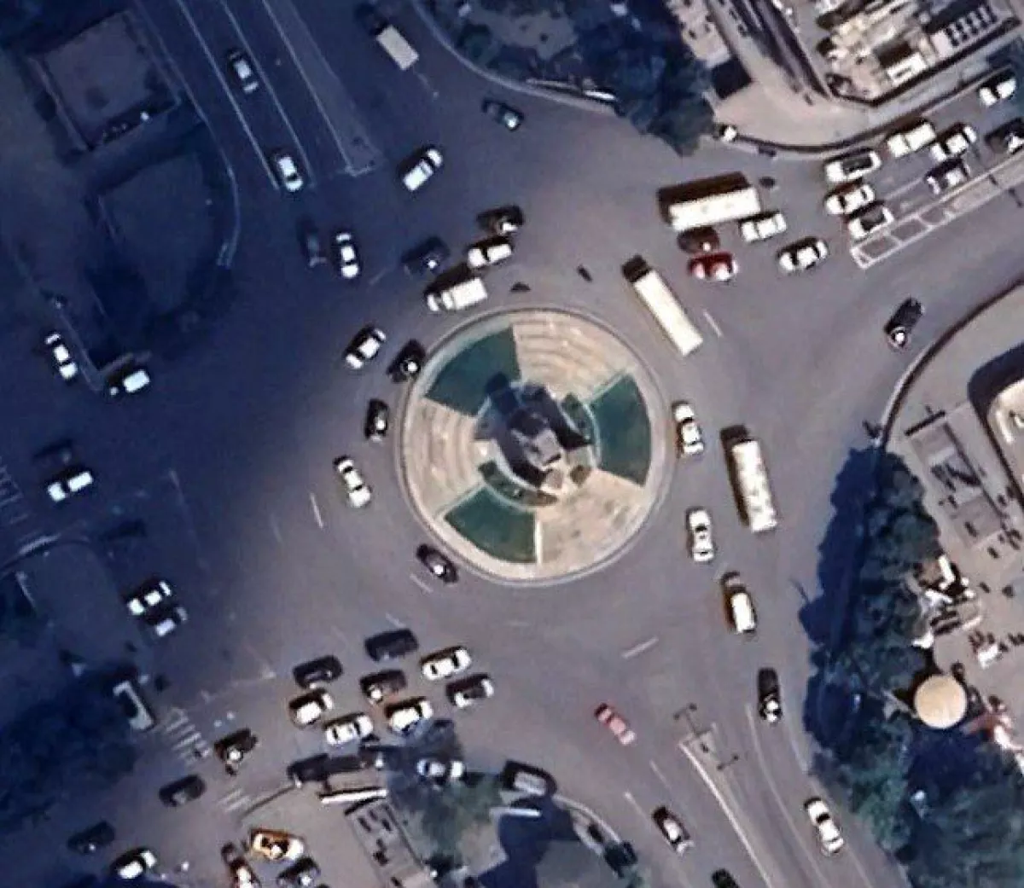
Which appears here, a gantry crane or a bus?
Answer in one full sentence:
It is a bus that can be seen here.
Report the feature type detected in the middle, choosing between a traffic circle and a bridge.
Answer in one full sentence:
The feature located in the middle is a traffic circle.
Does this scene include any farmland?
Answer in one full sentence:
No, the picture contains no farmland.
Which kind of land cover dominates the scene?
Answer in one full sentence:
For the most part, this view shows paved ground.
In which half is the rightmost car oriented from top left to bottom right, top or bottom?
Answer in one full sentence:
It is in the bottom half that the rightmost car oriented from top left to bottom right appears.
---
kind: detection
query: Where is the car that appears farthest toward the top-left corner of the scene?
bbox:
[227,50,258,91]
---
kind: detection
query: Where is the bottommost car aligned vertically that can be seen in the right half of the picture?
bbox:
[756,669,783,721]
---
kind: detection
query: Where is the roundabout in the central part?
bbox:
[399,305,670,587]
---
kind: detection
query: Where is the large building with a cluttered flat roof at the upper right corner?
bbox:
[769,0,1024,110]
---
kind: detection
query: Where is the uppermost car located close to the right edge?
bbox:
[977,71,1020,102]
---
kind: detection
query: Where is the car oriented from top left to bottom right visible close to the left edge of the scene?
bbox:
[43,333,78,379]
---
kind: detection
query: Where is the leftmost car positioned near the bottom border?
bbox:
[67,821,116,854]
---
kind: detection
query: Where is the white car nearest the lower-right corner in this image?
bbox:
[803,800,844,851]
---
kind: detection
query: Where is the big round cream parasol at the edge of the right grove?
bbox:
[914,674,965,726]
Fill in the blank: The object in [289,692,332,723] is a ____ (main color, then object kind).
white car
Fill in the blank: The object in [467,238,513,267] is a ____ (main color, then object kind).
white van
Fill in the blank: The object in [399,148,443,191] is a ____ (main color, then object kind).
white truck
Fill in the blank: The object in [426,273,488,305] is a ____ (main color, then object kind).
white truck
